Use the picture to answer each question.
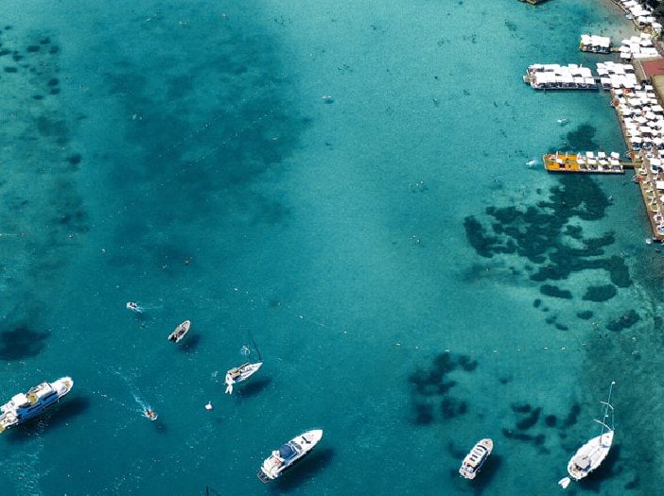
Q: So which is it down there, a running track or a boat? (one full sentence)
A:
This aerial view contains a boat.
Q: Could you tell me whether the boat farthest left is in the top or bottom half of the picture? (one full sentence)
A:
The boat farthest left is in the bottom half of the image.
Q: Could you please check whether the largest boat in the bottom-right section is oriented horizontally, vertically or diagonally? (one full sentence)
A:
In this picture, the largest boat in the bottom-right section lies diagonally.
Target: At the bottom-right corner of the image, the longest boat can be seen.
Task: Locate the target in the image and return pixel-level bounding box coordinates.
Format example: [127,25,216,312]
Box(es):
[562,396,614,485]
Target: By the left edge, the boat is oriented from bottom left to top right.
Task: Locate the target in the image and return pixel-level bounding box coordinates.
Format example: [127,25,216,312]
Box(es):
[0,373,67,437]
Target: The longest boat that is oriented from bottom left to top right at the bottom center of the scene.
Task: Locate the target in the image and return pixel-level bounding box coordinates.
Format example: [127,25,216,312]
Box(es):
[253,425,328,487]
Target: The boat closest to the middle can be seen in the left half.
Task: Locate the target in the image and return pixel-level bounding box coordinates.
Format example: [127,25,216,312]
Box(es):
[223,334,262,387]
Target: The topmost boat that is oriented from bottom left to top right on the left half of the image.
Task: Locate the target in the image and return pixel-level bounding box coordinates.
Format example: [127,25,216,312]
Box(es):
[168,322,189,342]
